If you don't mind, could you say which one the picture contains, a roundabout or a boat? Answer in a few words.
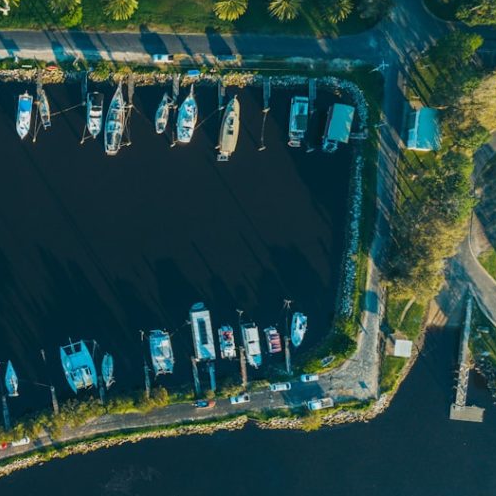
boat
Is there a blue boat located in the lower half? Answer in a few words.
Yes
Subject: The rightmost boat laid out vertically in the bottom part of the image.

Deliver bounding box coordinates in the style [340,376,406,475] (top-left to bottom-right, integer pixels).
[292,311,309,348]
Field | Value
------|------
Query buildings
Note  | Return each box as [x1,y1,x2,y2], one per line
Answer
[401,108,447,152]
[388,339,411,358]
